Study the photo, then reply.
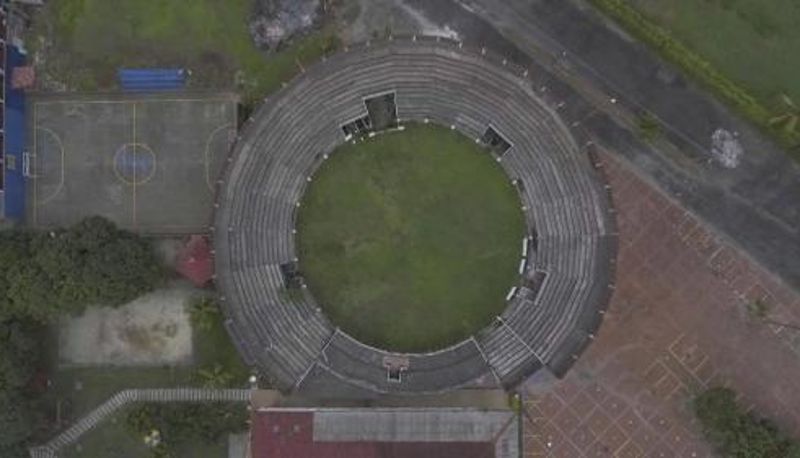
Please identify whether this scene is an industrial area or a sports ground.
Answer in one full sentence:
The picture captures a sports ground.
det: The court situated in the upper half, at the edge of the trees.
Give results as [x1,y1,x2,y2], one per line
[24,95,239,238]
